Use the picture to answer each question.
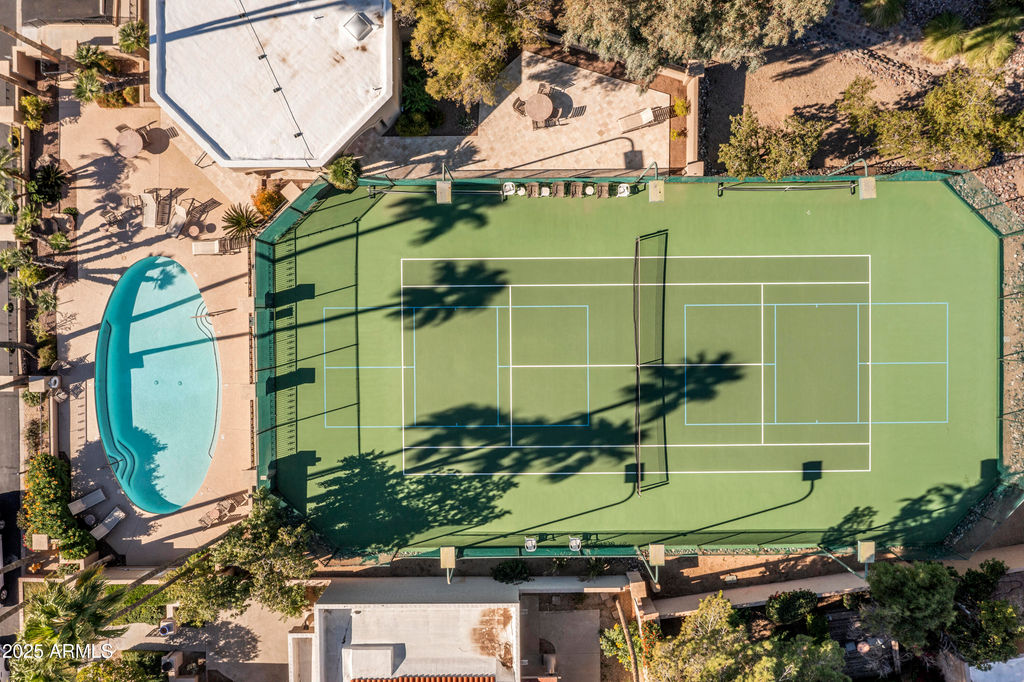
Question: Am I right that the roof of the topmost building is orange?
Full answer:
No, from above the roof of the topmost building looks white.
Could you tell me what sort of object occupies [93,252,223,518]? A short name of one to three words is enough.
swimming pool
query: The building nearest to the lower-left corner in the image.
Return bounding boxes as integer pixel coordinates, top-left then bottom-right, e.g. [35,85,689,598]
[315,577,526,682]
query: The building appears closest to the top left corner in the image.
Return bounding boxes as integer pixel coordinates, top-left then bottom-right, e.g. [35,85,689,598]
[149,0,401,179]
